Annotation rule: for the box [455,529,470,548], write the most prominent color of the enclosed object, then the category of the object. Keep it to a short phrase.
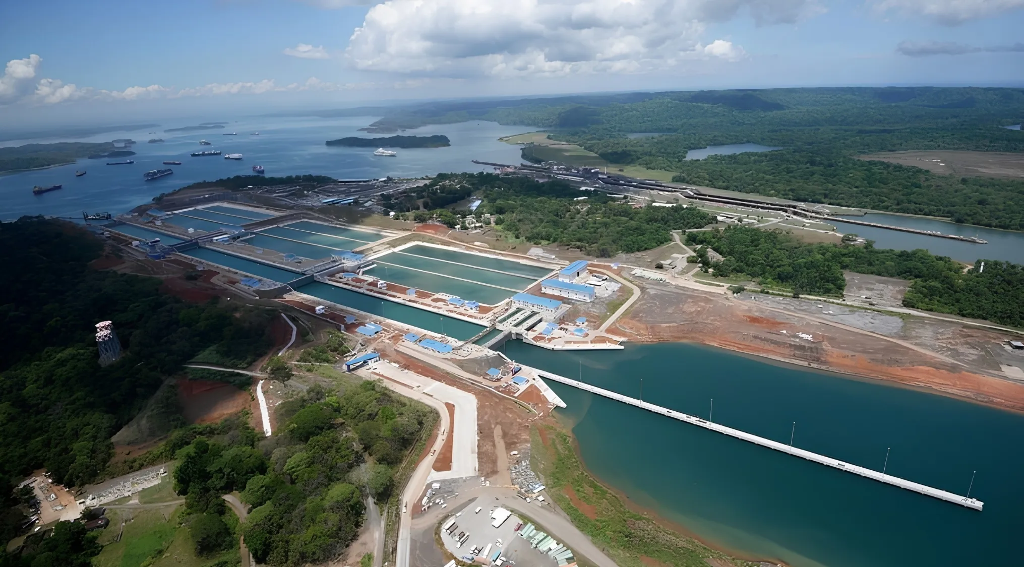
white vehicle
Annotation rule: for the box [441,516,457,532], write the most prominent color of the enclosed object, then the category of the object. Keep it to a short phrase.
white vehicle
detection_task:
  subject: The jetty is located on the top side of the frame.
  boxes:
[473,162,990,243]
